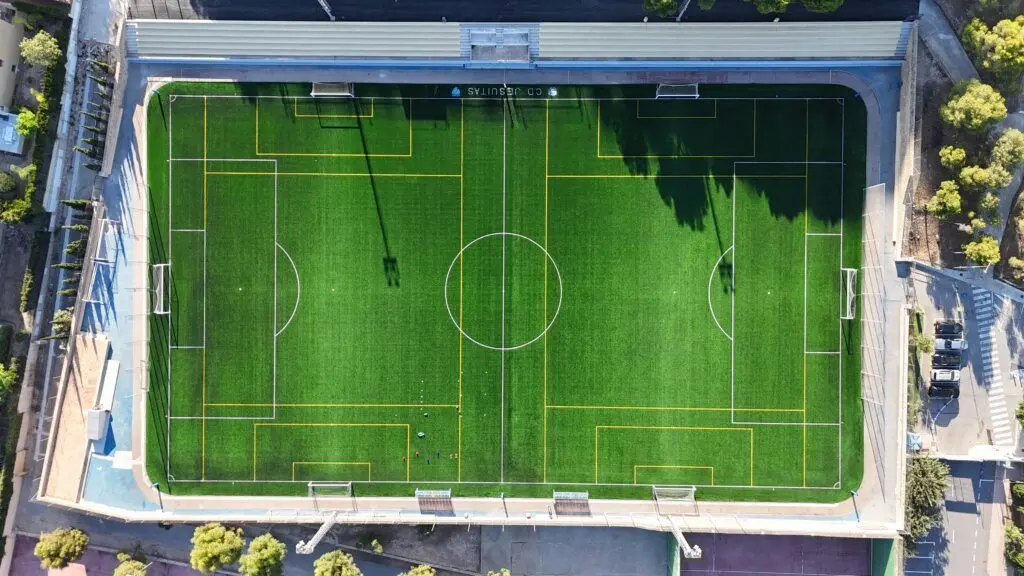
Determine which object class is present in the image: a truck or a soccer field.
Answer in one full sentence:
I can see a soccer field in this picture.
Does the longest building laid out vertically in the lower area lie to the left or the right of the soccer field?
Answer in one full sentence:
The longest building laid out vertically in the lower area appears to the left of the soccer field in this view.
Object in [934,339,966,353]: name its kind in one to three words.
car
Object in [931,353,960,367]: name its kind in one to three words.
car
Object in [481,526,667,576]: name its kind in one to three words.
sports court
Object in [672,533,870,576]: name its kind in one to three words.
sports court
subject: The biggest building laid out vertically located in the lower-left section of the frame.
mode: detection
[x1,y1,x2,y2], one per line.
[47,335,111,503]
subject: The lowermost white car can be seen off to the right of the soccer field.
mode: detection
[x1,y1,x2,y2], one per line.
[930,369,959,383]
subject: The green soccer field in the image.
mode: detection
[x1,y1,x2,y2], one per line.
[145,81,865,505]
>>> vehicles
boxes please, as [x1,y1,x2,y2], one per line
[928,385,958,399]
[930,369,959,383]
[934,339,966,353]
[933,324,961,338]
[931,353,960,367]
